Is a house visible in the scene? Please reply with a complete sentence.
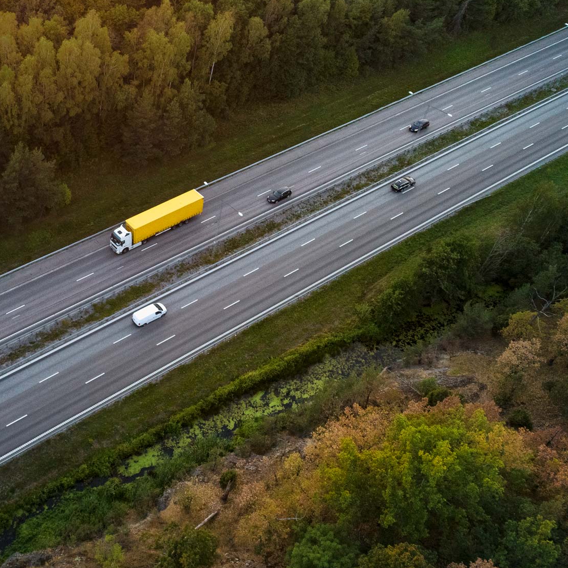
No, there is no house in the image.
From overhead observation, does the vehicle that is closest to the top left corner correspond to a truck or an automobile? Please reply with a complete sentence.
Specifically, the vehicle that is closest to the top left corner is a truck.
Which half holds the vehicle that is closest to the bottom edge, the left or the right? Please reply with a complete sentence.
The vehicle that is closest to the bottom edge is on the left side of the image.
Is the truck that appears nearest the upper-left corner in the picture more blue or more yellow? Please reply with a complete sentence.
The truck that appears nearest the upper-left corner is yellow.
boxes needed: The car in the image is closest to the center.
[267,187,292,205]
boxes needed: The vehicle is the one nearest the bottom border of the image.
[133,302,169,326]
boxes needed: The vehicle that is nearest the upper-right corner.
[408,118,431,133]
